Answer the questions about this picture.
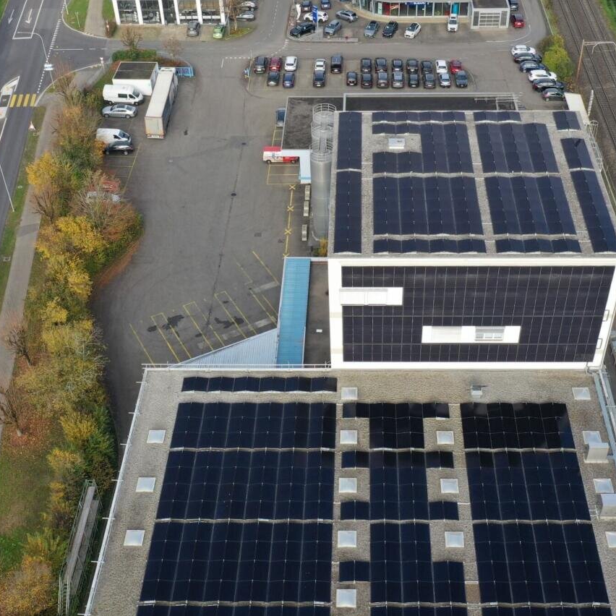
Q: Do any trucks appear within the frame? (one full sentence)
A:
Yes, the image includes a truck.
